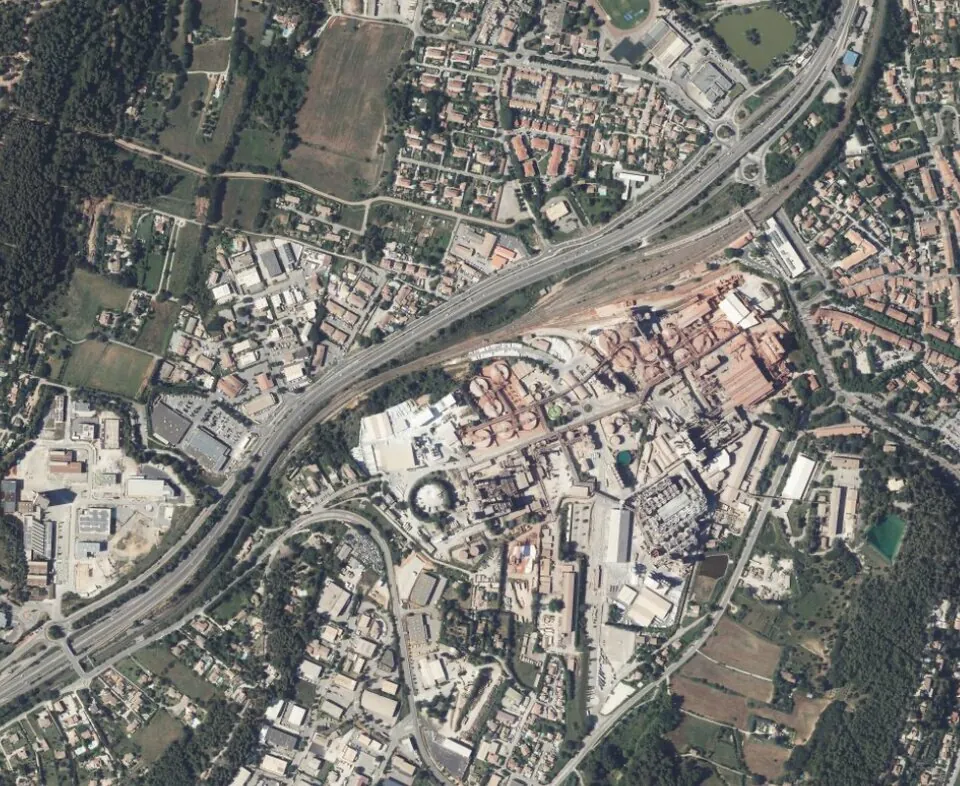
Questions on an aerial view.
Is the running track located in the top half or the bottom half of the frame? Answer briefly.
top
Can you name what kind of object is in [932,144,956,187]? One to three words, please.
building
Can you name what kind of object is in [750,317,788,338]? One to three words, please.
building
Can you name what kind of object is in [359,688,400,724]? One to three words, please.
shed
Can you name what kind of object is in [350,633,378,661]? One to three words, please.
shed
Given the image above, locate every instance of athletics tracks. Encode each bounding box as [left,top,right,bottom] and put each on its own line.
[594,0,660,37]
